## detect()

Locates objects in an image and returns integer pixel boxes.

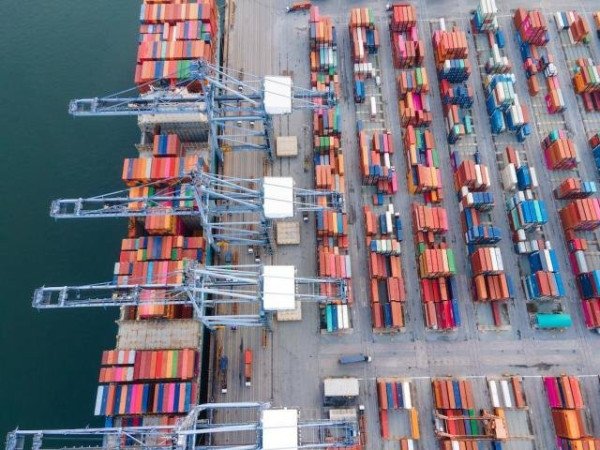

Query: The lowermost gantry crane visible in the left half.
[10,388,360,450]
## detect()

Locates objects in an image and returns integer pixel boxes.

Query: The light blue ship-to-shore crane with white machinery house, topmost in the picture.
[69,57,339,172]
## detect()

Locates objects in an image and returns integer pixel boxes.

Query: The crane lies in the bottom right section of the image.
[430,411,512,445]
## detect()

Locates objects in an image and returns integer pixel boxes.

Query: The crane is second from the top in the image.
[51,167,345,260]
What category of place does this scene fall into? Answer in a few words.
port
